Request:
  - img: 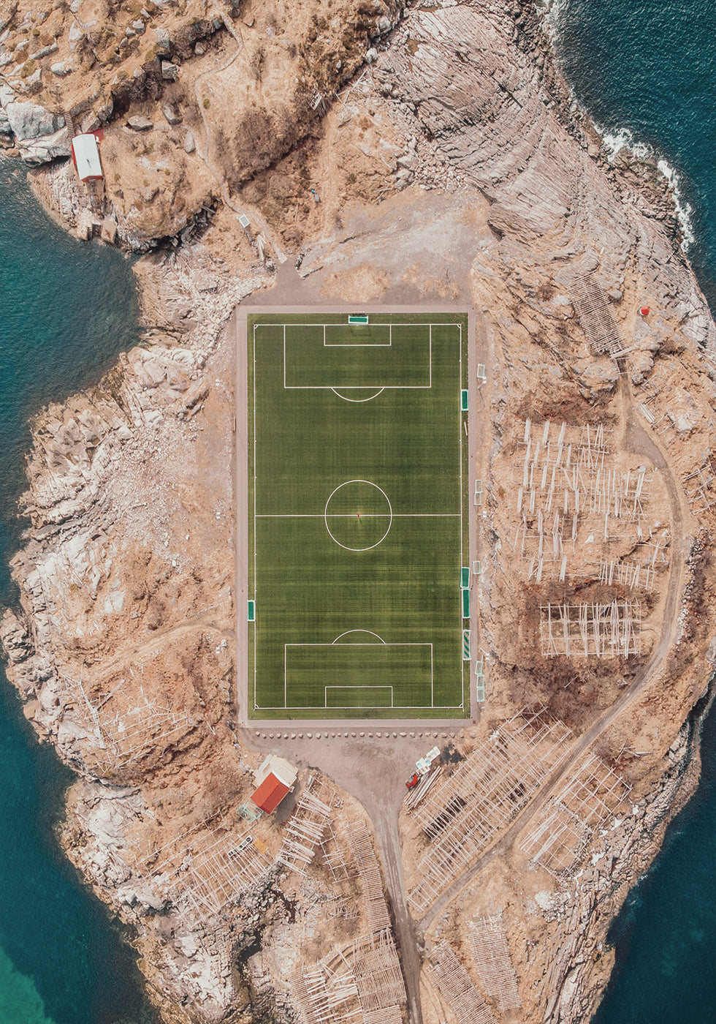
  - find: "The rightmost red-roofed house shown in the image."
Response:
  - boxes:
[251,771,291,814]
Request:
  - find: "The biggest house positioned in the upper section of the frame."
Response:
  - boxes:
[70,133,106,185]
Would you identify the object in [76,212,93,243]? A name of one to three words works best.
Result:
pier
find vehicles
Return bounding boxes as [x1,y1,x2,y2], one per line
[404,773,421,792]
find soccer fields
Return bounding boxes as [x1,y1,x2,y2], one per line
[248,314,469,719]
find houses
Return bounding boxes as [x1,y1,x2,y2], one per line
[70,133,106,185]
[251,771,291,814]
